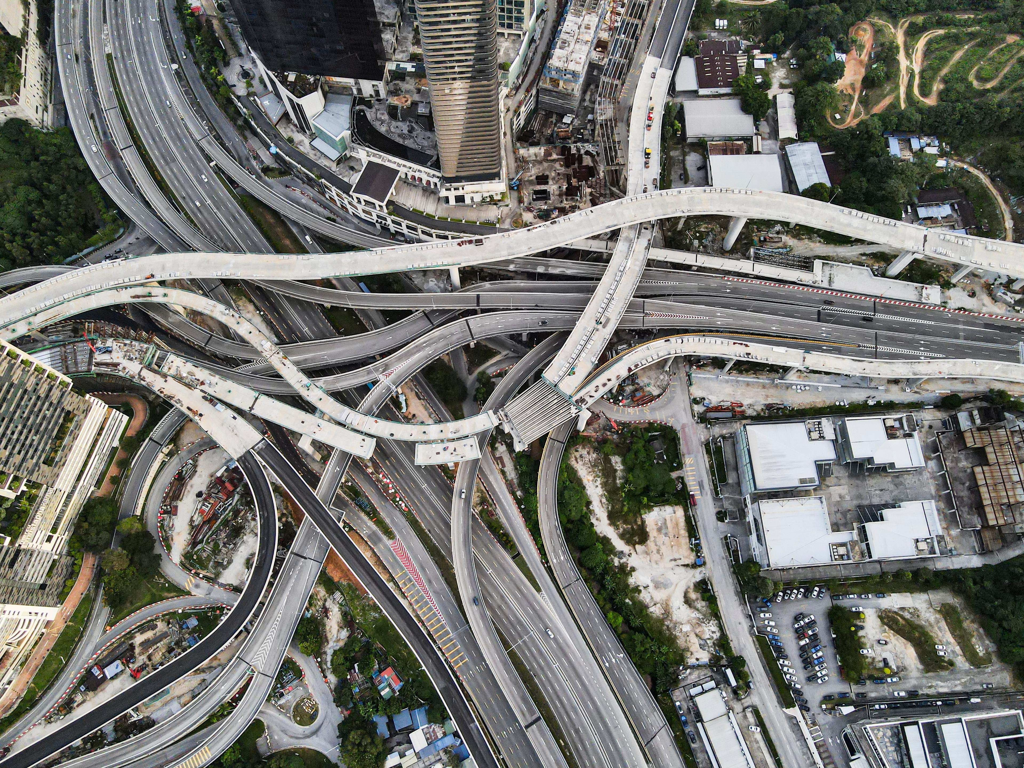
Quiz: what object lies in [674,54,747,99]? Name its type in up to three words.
building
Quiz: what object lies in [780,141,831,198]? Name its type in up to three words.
building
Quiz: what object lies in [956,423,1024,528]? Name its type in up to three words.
shed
